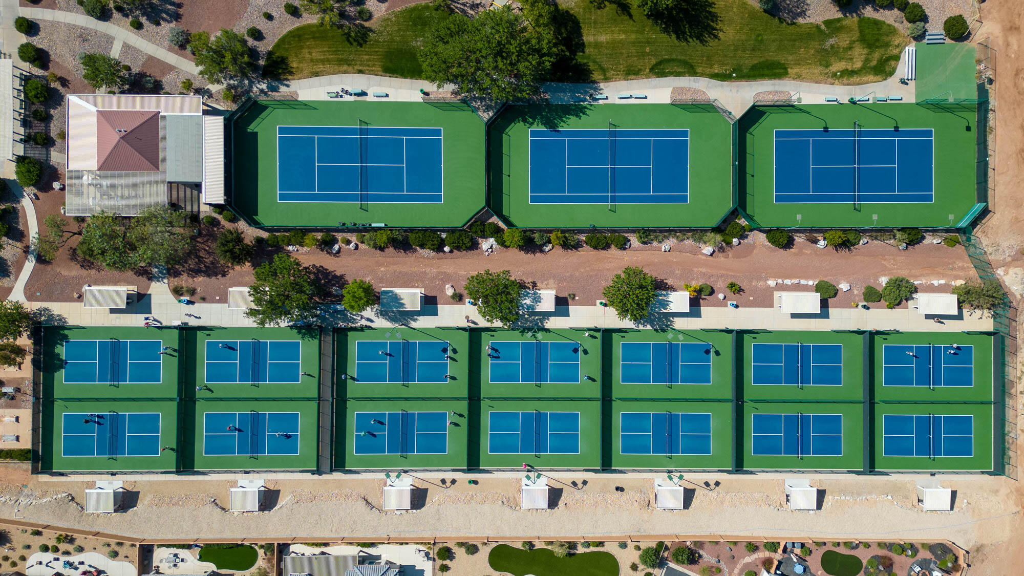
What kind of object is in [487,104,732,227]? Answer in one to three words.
tennis court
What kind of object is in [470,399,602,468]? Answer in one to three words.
sports court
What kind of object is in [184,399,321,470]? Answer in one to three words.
sports court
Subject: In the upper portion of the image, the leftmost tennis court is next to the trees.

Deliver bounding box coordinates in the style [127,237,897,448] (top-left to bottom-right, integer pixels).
[234,100,487,227]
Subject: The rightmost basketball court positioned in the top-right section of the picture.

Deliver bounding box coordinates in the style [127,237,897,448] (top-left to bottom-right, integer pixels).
[916,42,976,104]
